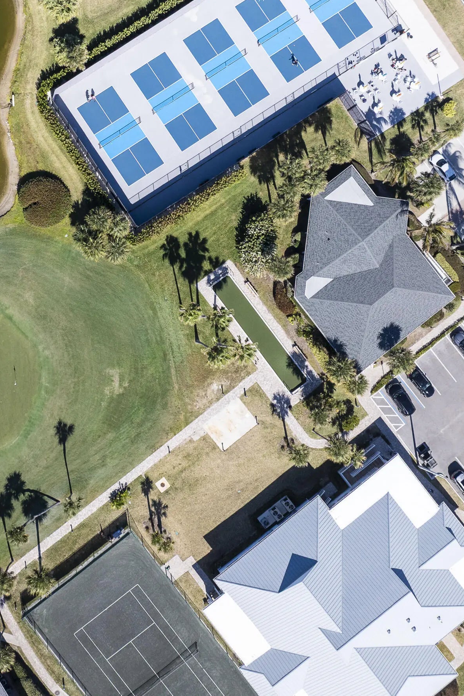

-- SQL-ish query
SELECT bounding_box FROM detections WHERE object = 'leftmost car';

[386,381,416,416]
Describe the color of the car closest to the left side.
black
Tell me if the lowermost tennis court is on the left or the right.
left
